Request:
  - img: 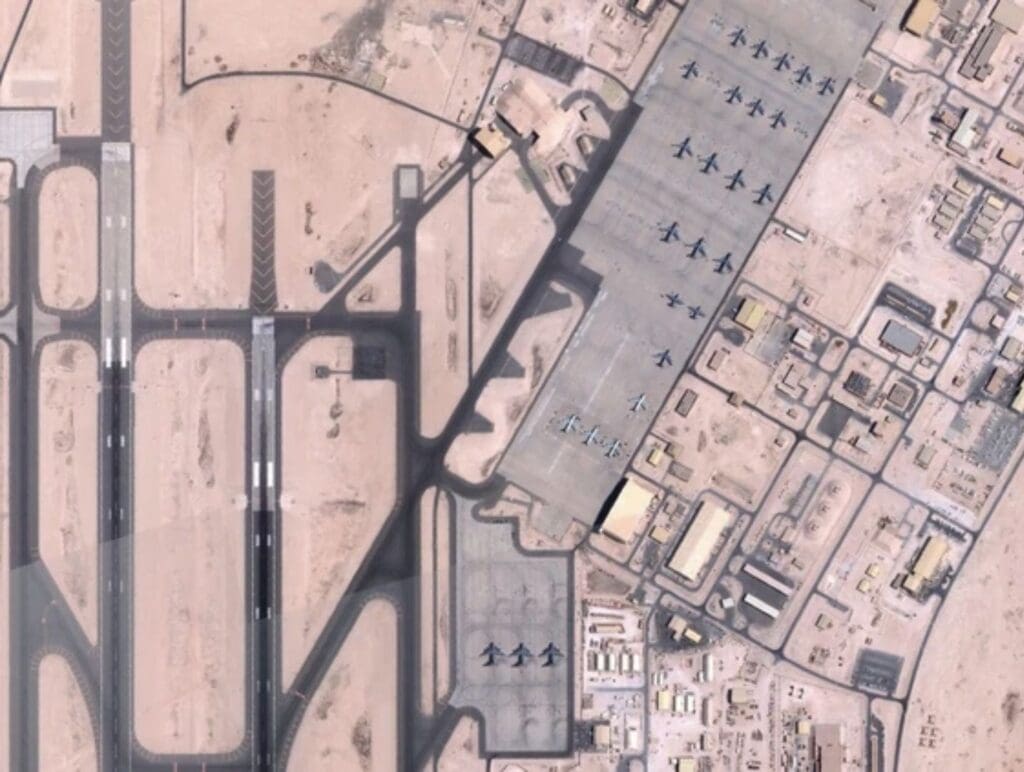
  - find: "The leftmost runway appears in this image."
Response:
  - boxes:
[98,0,135,772]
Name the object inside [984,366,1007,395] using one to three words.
building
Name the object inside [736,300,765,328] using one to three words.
hangar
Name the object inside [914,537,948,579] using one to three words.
building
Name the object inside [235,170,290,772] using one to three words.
runway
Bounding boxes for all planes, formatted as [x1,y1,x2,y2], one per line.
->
[540,642,565,668]
[674,139,691,158]
[657,351,670,366]
[511,642,535,668]
[682,62,698,80]
[796,66,813,85]
[629,394,645,413]
[668,293,685,307]
[727,171,744,190]
[481,642,505,668]
[689,239,706,258]
[701,154,718,173]
[716,255,733,273]
[752,41,768,60]
[690,305,707,320]
[583,428,599,446]
[662,223,679,242]
[726,86,743,105]
[748,99,765,118]
[770,111,787,130]
[560,416,576,434]
[818,77,835,96]
[755,185,772,204]
[774,53,791,72]
[603,440,620,459]
[730,29,746,48]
